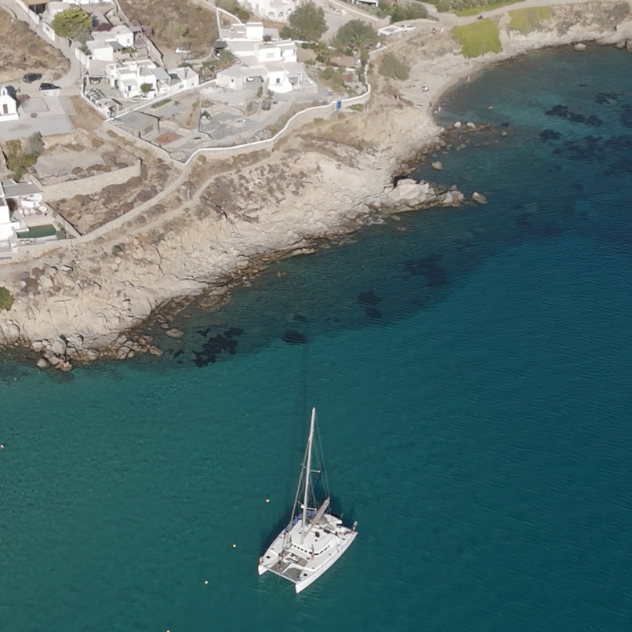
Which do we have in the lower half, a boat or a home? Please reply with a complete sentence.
The one visible in the lower half is a boat.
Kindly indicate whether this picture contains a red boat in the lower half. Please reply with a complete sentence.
No, I see no red boat in the lower half.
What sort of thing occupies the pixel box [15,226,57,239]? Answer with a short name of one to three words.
swimming pool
